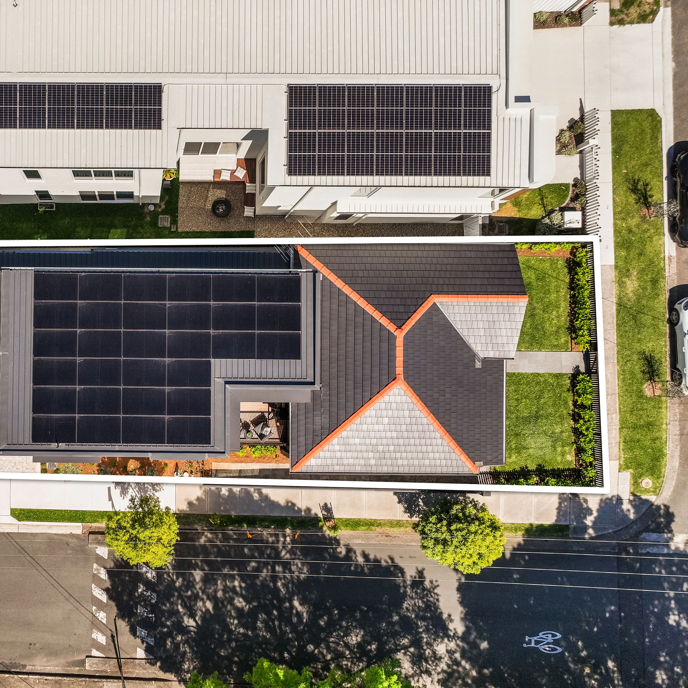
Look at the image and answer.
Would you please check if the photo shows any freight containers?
No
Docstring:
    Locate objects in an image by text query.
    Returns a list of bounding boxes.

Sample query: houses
[0,0,555,228]
[0,242,530,475]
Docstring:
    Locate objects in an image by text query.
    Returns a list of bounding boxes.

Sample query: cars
[668,152,688,252]
[676,299,688,393]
